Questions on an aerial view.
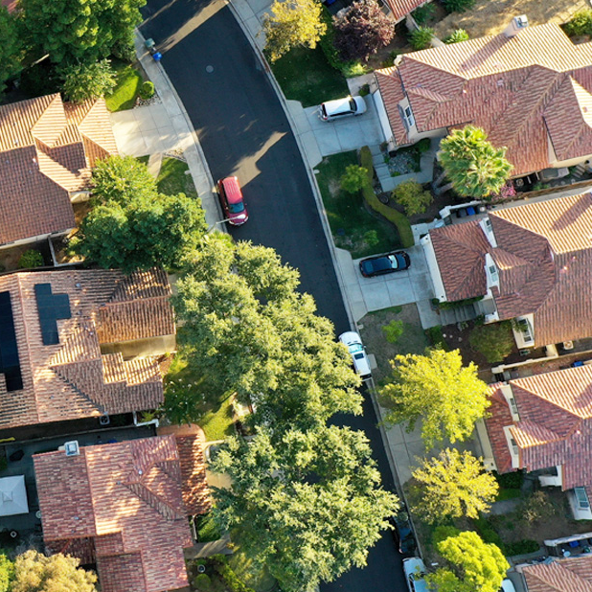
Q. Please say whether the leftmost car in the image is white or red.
red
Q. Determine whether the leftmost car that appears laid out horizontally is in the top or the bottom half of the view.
top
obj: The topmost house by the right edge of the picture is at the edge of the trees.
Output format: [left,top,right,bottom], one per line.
[368,13,592,177]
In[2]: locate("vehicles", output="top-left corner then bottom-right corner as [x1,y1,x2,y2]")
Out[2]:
[316,91,369,121]
[401,555,433,592]
[217,174,249,226]
[356,249,412,279]
[386,501,419,558]
[339,327,376,381]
